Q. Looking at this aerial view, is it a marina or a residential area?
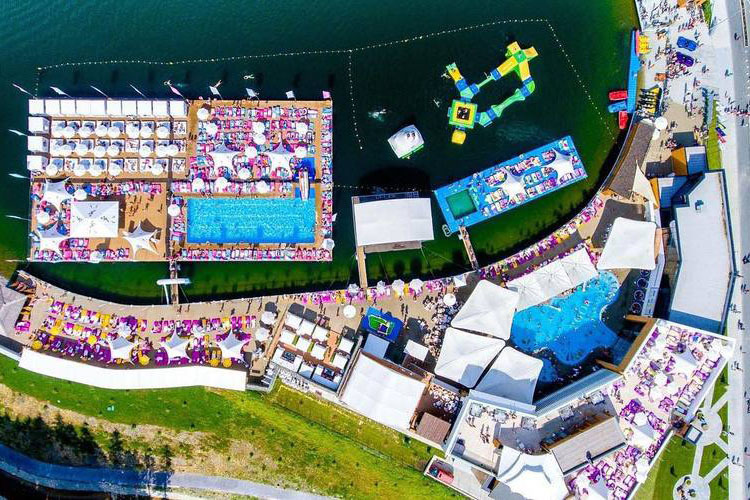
marina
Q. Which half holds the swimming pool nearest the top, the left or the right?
left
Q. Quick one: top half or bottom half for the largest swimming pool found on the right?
bottom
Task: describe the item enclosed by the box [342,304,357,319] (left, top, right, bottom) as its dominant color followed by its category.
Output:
white umbrella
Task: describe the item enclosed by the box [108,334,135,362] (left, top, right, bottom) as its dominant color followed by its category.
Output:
white tent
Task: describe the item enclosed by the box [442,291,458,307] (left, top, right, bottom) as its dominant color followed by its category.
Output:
white umbrella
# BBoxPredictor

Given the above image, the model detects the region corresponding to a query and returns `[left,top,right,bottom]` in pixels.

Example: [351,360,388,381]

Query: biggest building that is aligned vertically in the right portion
[667,170,736,332]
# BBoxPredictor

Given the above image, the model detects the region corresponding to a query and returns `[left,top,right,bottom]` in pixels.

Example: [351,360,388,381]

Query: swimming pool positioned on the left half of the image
[187,198,317,243]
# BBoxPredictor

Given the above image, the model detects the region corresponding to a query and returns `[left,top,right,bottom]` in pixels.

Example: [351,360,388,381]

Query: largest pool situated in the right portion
[511,269,621,383]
